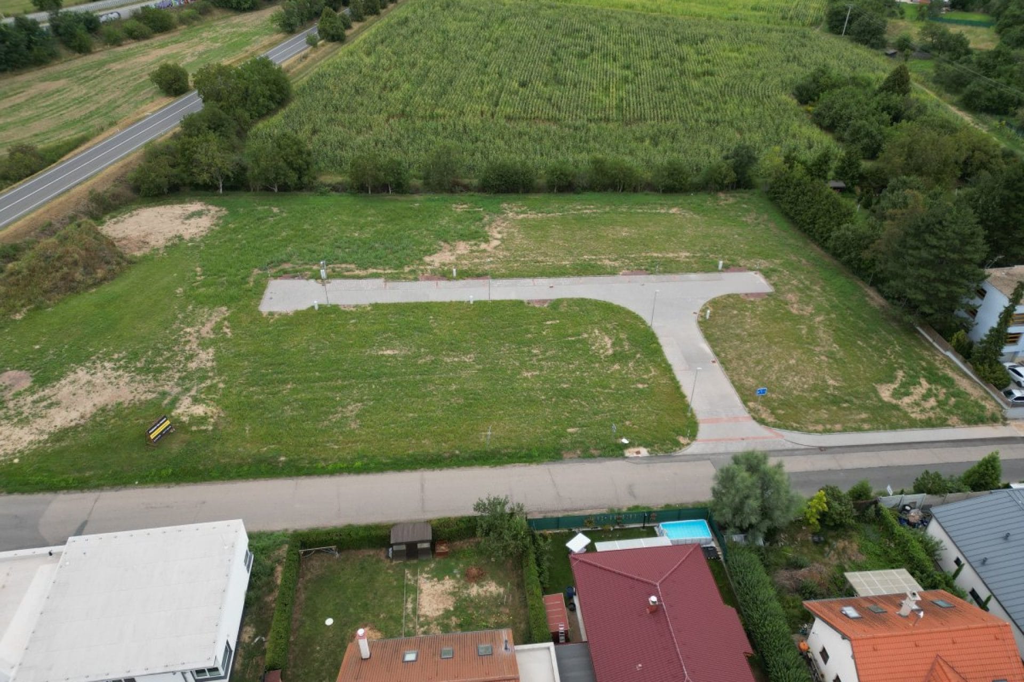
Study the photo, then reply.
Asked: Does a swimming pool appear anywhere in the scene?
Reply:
Yes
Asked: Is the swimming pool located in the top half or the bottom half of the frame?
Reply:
bottom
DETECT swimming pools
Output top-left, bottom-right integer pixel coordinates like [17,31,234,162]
[657,520,711,549]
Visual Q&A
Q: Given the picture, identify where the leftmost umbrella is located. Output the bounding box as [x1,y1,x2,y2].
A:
[564,533,592,554]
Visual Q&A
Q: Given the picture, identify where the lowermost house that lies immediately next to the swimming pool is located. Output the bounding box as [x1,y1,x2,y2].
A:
[569,543,751,682]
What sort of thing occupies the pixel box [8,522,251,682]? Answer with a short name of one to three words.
building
